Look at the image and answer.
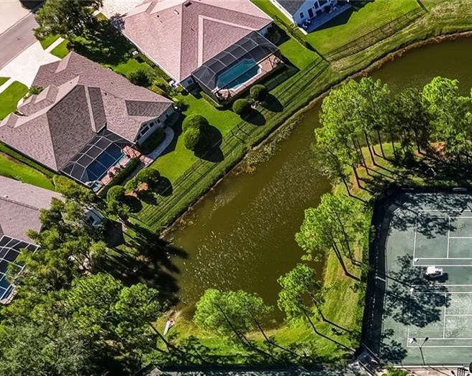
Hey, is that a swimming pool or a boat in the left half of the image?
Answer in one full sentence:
What appears in the left half of the image is a swimming pool.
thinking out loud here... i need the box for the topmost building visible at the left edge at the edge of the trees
[0,51,175,176]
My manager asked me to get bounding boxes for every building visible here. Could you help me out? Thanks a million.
[0,176,65,260]
[116,0,274,91]
[276,0,342,22]
[0,51,175,176]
